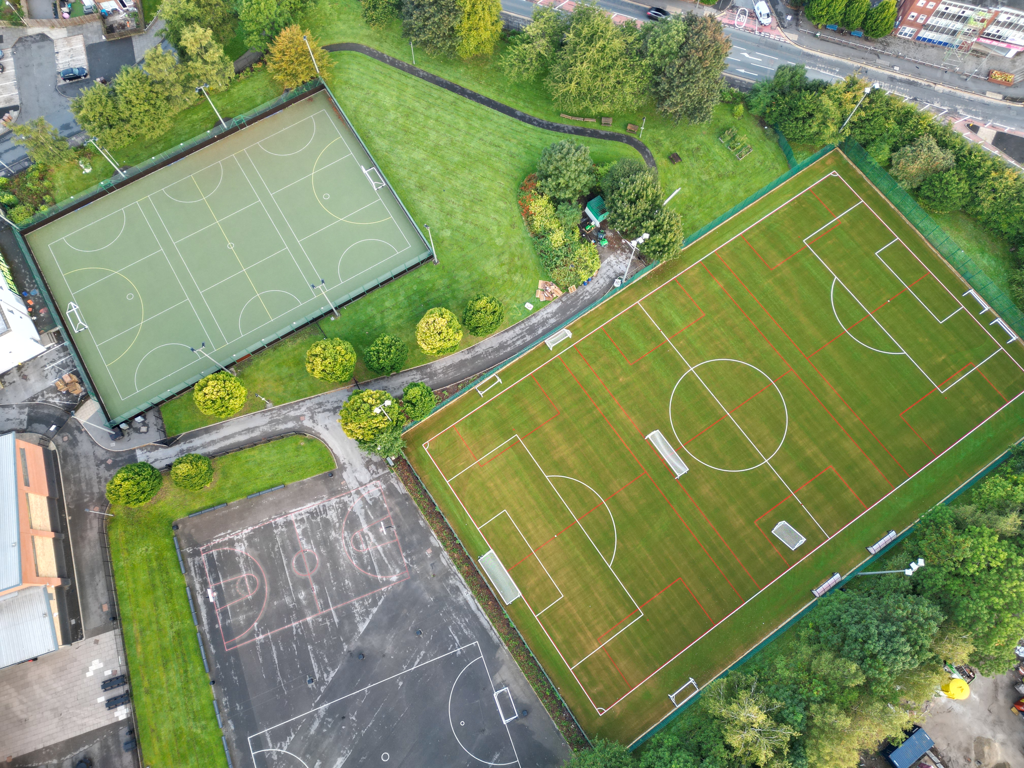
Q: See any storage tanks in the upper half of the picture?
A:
No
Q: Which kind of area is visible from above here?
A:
sports ground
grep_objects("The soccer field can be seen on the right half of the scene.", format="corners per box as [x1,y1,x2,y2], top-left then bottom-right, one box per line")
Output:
[403,147,1024,744]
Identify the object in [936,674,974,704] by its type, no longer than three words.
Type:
storage tank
